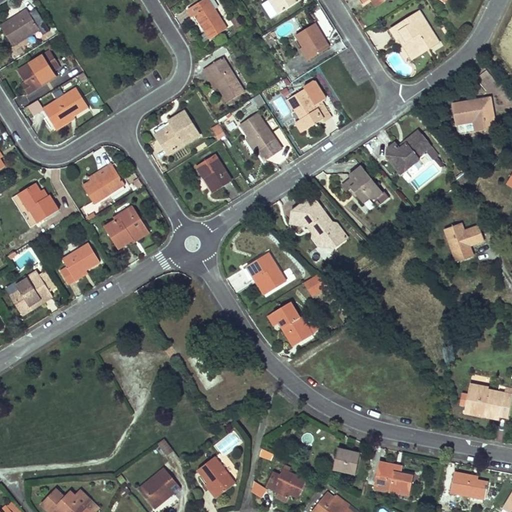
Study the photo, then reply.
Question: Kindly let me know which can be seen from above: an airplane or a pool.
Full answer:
Of the two, only a pool appears.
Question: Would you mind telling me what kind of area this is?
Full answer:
The area seen from above is a residential area.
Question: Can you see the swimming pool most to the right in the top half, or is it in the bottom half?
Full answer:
The top half of the photo is where the swimming pool most to the right is.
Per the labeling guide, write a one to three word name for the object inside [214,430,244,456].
swimming pool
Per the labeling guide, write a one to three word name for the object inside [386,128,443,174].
house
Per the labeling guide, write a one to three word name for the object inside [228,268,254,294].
building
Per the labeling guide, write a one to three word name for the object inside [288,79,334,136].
house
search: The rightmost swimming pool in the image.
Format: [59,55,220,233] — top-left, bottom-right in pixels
[402,154,444,192]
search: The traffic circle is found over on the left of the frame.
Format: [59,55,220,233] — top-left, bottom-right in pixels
[168,218,218,272]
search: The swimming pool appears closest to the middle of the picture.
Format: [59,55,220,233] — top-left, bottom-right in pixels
[268,94,294,124]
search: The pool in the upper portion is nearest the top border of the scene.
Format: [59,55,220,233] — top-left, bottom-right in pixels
[274,18,300,40]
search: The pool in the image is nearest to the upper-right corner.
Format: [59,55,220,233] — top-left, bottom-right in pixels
[386,52,416,76]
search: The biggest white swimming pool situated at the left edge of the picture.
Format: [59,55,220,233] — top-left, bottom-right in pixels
[13,248,42,272]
